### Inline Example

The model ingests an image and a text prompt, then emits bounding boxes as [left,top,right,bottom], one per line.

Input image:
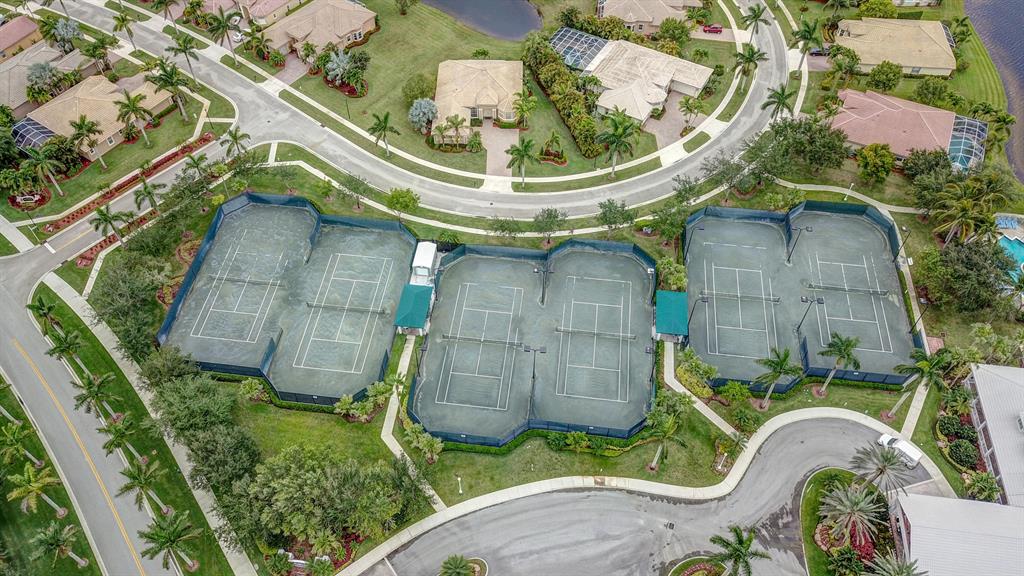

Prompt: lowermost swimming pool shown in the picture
[985,212,1024,326]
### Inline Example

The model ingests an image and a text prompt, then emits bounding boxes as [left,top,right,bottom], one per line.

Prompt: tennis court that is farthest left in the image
[166,204,312,375]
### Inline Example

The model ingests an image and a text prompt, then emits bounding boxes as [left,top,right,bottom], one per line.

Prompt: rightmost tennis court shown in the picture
[790,211,921,384]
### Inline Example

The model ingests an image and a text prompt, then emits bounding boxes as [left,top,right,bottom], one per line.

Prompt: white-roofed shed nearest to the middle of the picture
[412,242,438,276]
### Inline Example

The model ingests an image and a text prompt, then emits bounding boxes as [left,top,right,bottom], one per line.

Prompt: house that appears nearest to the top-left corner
[0,18,42,60]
